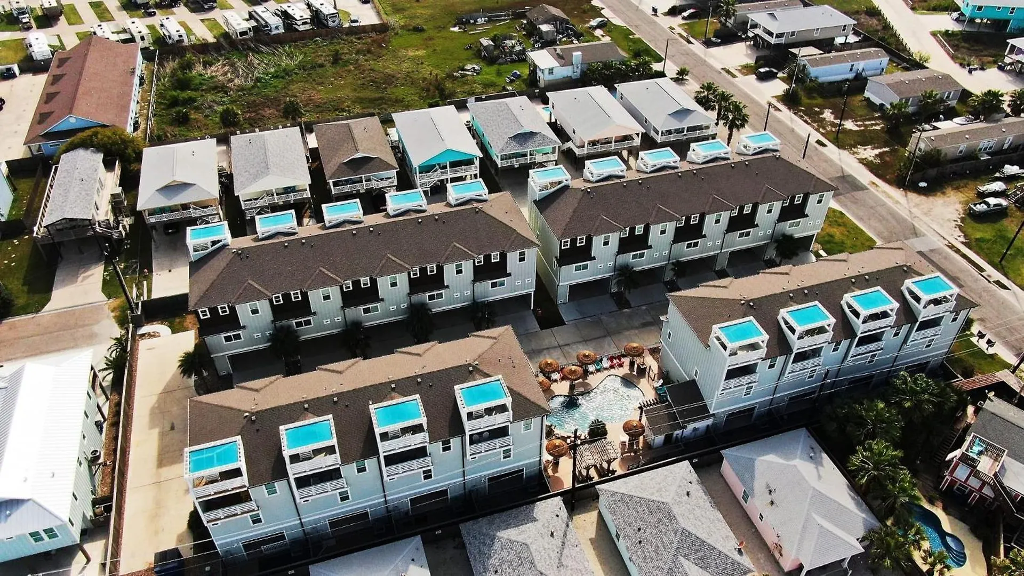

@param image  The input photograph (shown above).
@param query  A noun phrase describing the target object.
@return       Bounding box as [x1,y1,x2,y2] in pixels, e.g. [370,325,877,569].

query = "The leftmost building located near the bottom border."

[0,349,105,576]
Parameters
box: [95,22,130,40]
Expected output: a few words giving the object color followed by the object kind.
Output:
white camper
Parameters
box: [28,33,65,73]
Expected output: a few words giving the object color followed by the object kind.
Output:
white camper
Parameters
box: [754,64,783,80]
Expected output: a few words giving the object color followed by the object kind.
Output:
black car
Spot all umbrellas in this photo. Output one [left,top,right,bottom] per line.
[622,346,645,368]
[560,367,583,391]
[621,422,645,448]
[538,379,555,397]
[537,361,560,381]
[575,353,598,376]
[548,441,569,467]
